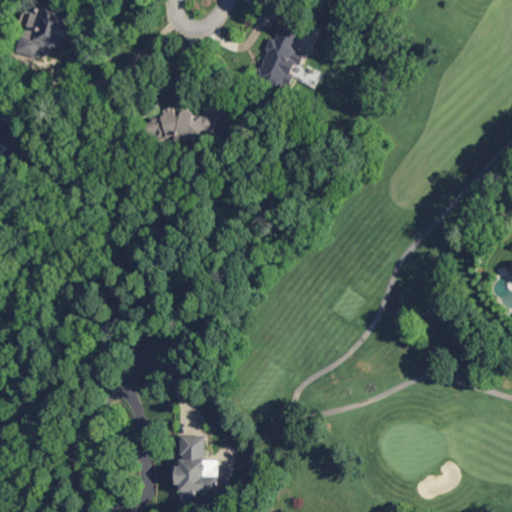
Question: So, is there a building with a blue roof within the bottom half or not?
No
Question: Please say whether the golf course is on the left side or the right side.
right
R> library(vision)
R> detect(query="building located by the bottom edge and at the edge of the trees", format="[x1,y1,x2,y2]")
[171,436,219,497]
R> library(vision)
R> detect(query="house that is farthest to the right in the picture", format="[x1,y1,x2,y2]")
[256,26,321,84]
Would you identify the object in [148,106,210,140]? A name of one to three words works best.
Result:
house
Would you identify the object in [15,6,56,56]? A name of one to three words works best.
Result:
house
